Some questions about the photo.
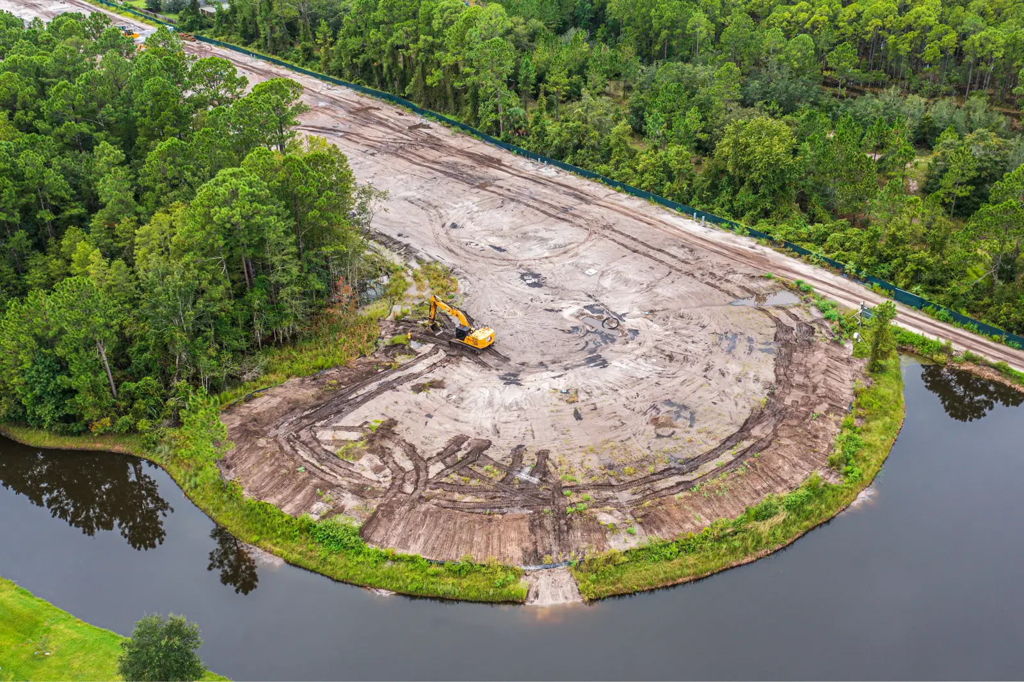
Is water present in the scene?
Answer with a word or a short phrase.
Yes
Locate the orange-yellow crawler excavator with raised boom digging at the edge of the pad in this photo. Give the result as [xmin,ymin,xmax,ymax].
[430,302,496,361]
